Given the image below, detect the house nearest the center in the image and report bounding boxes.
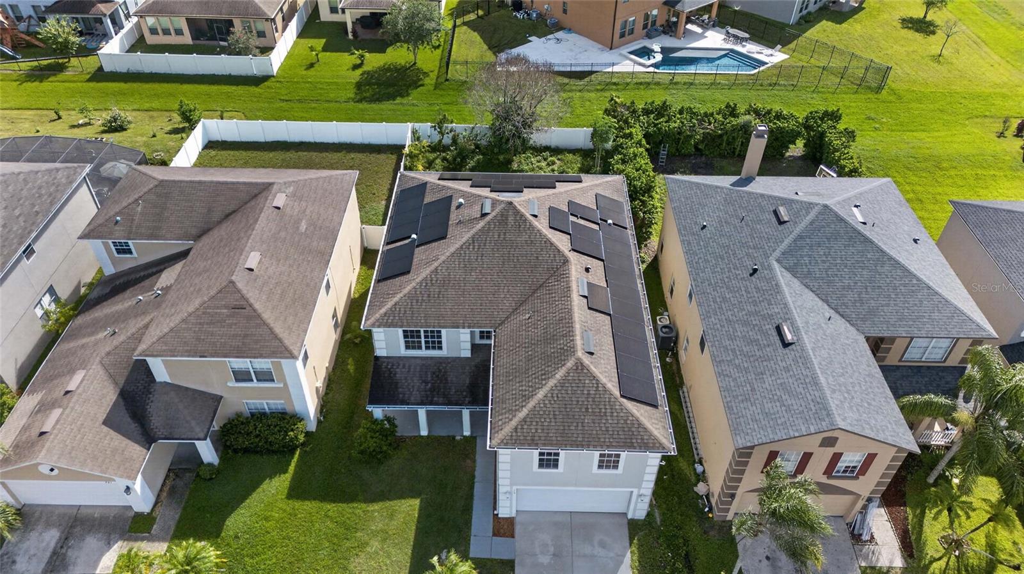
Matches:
[360,170,679,520]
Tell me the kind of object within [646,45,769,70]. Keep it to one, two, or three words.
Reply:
swimming pool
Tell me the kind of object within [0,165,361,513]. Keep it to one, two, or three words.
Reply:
house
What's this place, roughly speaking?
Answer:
residential area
